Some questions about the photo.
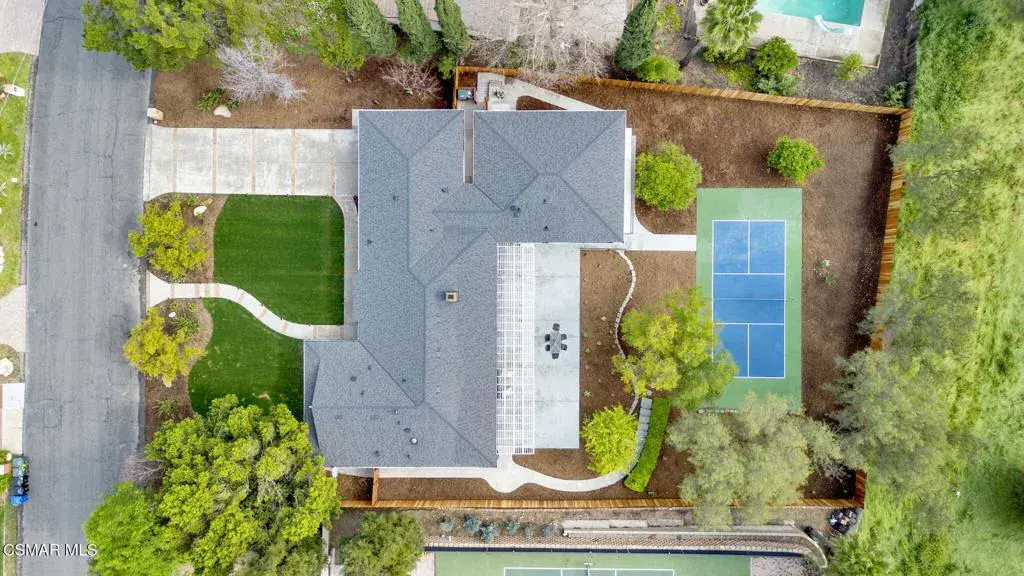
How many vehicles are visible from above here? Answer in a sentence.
The picture shows no vehicles.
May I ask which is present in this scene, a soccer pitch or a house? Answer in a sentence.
There is a house in the scene.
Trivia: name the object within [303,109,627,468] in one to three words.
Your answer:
house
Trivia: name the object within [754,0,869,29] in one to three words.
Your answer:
swimming pool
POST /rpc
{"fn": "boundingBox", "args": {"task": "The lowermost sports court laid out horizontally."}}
[434,549,750,576]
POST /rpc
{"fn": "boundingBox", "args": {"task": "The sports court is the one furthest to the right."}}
[697,188,802,411]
